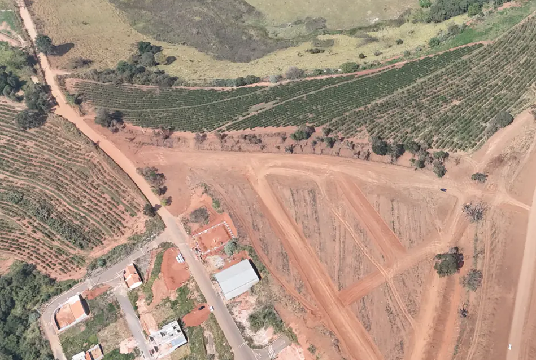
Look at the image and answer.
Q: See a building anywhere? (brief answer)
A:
Yes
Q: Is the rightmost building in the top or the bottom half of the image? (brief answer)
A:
bottom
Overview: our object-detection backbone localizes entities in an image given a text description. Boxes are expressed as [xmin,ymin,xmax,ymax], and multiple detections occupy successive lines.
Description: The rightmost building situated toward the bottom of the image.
[217,260,261,298]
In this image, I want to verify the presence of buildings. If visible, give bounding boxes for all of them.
[55,294,90,332]
[120,264,146,293]
[149,321,190,360]
[217,260,261,298]
[69,348,106,360]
